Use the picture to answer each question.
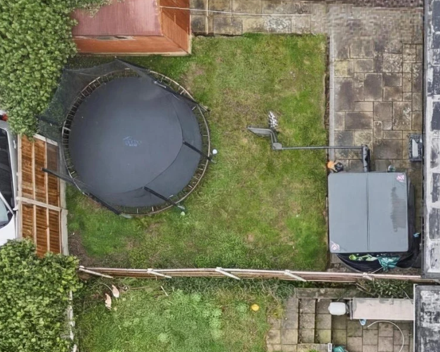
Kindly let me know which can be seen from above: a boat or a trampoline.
trampoline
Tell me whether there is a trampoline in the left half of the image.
Yes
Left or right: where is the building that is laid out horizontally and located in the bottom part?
right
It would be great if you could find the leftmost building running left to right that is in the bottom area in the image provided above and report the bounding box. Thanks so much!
[351,297,411,321]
